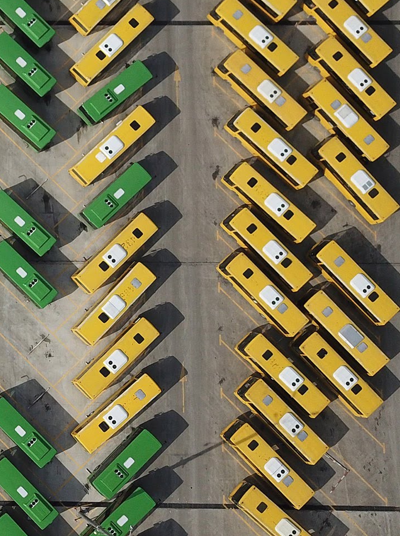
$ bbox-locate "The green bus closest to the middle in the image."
[79,161,156,230]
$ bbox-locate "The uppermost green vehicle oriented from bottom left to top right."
[78,60,156,126]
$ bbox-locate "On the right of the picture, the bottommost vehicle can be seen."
[230,478,306,536]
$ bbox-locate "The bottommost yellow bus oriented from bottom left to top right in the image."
[70,369,164,451]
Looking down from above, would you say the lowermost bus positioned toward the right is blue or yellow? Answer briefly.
yellow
